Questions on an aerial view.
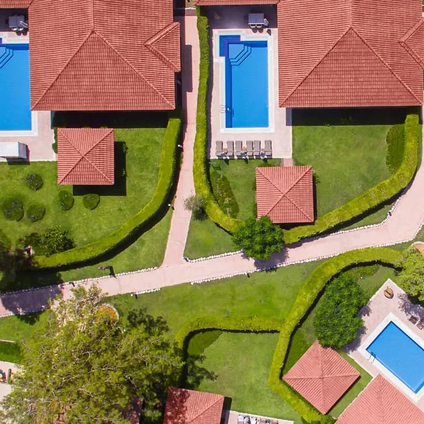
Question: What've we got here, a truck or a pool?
pool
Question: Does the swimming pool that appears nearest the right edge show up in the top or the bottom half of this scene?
bottom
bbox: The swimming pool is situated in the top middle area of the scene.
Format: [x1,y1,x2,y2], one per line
[214,30,274,134]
